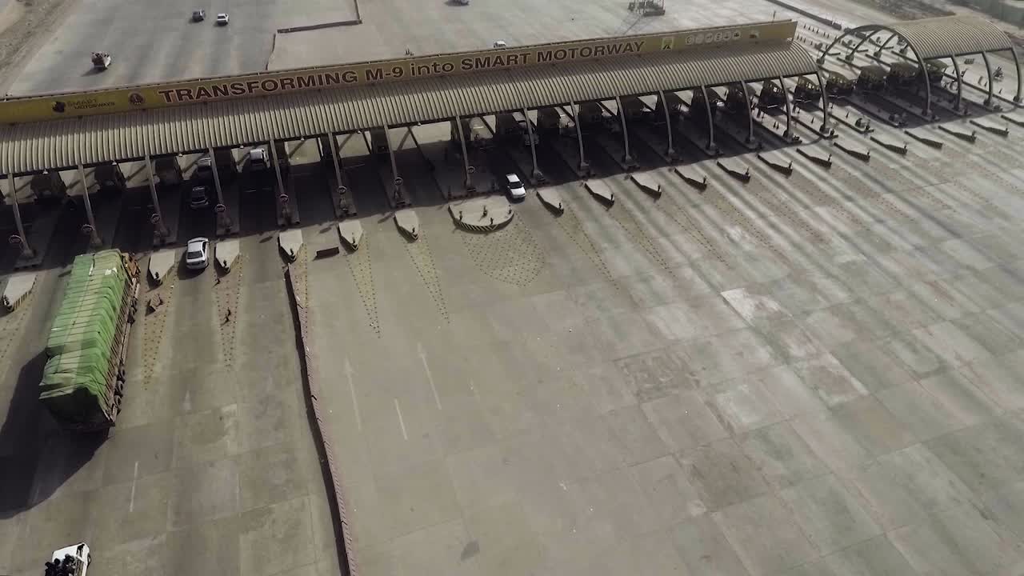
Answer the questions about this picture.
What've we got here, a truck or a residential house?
truck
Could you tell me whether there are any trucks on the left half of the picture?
Yes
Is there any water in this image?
No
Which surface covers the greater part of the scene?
paved ground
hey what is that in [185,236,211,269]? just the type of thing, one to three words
car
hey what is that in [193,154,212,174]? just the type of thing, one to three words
car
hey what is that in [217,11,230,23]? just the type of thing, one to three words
vehicle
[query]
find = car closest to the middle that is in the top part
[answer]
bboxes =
[503,171,528,196]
